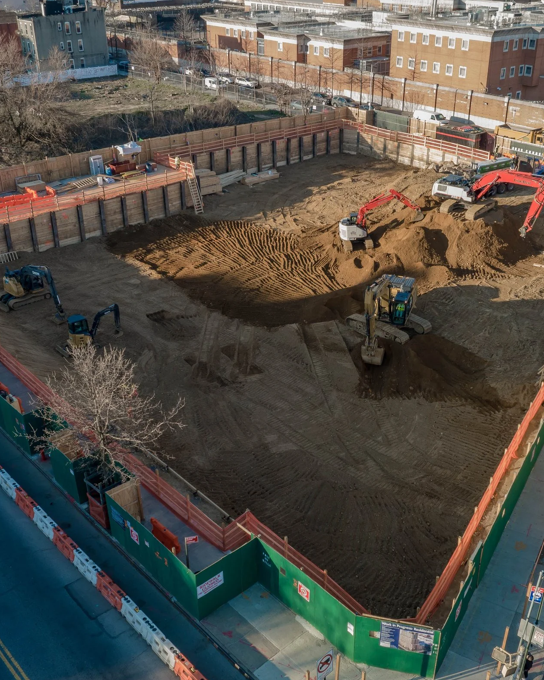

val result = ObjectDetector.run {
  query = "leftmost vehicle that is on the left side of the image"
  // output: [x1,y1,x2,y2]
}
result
[0,263,67,325]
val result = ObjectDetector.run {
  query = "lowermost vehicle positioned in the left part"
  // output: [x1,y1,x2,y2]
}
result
[48,305,125,362]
